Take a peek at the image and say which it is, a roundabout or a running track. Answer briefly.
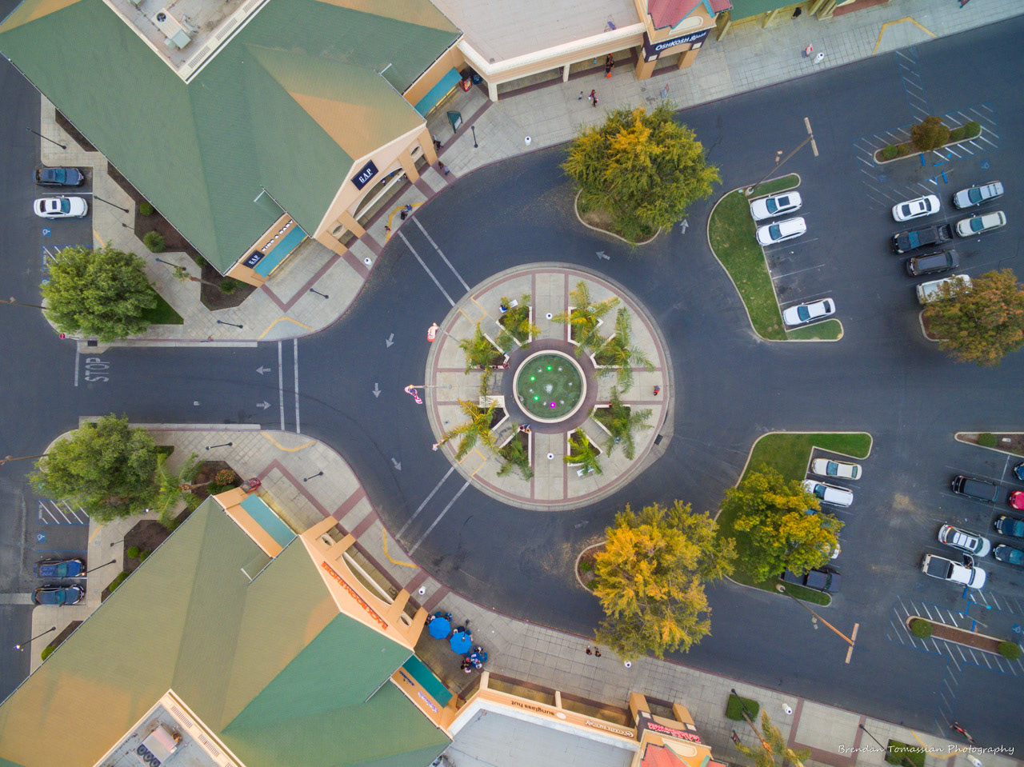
roundabout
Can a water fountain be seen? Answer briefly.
Yes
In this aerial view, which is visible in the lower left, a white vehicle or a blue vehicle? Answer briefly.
blue vehicle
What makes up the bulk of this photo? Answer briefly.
paved ground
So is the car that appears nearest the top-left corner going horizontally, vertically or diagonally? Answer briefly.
horizontally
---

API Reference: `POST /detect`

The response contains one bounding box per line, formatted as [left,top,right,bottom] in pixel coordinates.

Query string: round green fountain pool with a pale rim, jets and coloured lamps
[512,348,588,424]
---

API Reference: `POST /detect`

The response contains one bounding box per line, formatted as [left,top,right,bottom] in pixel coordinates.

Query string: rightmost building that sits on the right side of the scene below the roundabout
[629,694,724,767]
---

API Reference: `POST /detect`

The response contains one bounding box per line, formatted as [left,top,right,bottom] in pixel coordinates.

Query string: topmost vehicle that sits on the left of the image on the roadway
[32,164,88,191]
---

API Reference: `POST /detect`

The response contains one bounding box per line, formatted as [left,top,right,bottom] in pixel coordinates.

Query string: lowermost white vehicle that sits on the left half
[36,196,92,221]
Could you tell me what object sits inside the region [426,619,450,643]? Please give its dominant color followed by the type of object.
blue umbrella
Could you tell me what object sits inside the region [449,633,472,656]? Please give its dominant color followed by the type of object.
blue umbrella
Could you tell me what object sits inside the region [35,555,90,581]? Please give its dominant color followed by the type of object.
blue car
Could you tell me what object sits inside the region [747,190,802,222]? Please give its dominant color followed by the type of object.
white car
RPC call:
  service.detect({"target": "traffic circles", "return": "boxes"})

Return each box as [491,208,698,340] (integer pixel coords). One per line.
[426,263,674,510]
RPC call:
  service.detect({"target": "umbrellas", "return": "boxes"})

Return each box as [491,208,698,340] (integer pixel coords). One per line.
[426,619,450,643]
[449,633,472,656]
